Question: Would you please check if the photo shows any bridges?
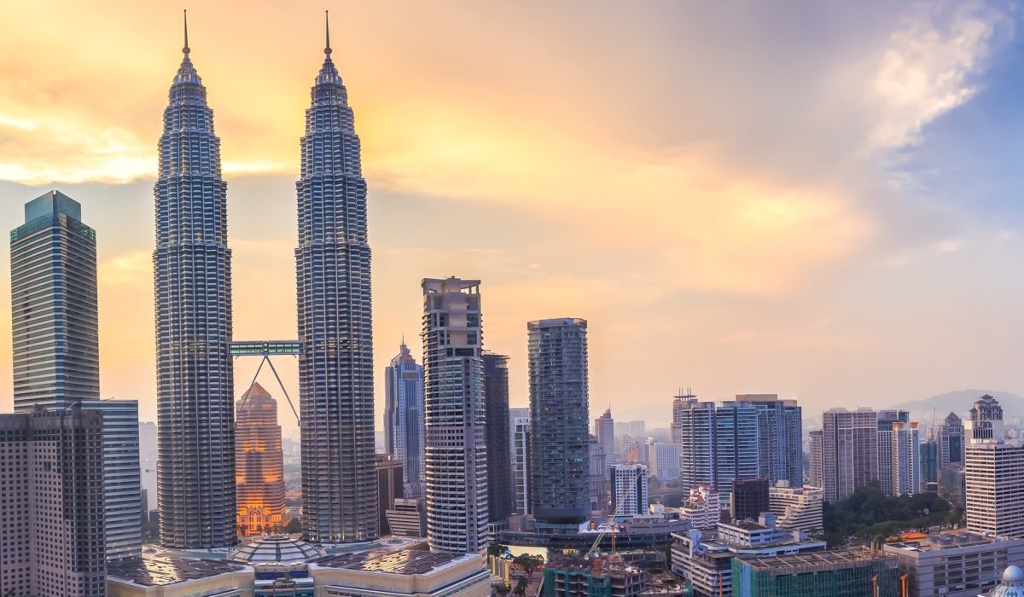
Yes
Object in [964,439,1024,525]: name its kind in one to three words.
building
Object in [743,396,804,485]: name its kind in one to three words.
building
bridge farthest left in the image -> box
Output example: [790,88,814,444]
[227,341,301,417]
